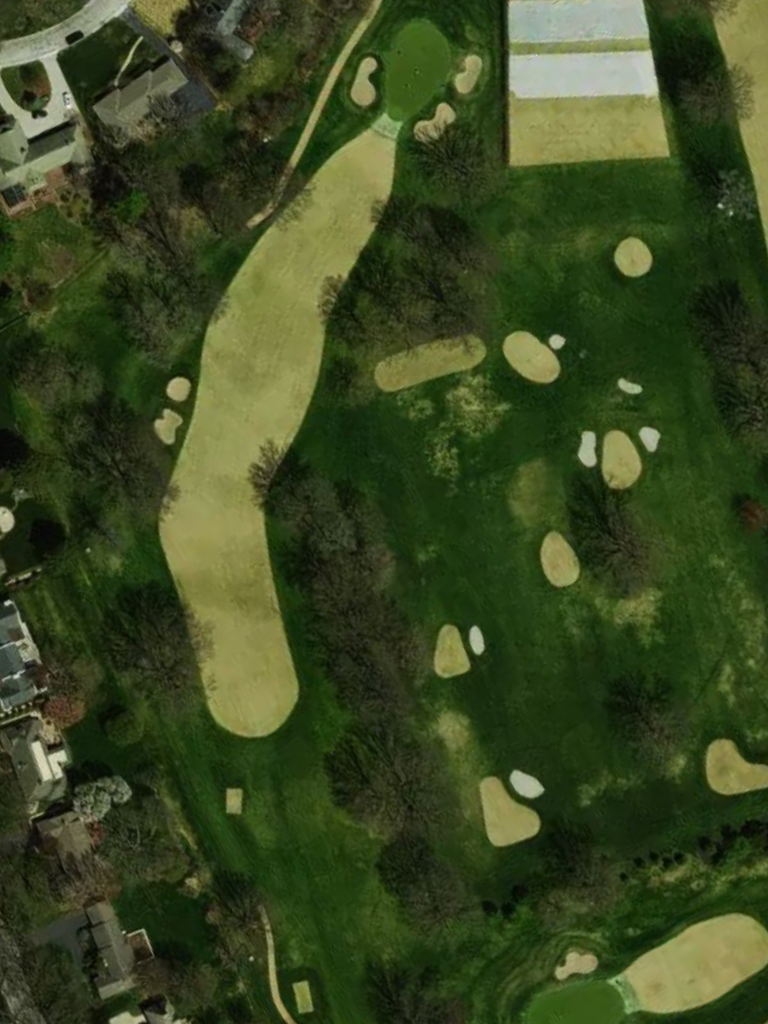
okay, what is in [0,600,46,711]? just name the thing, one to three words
house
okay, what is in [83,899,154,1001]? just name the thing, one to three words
house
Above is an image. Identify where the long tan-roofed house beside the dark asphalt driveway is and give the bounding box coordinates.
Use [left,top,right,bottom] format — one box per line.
[89,54,188,139]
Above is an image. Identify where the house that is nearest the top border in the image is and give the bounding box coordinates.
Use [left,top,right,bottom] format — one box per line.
[197,0,256,61]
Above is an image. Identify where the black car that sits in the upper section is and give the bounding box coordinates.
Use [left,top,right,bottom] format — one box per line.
[66,30,84,44]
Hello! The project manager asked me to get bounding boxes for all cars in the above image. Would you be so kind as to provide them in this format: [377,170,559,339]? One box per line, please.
[63,92,72,109]
[66,30,84,44]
